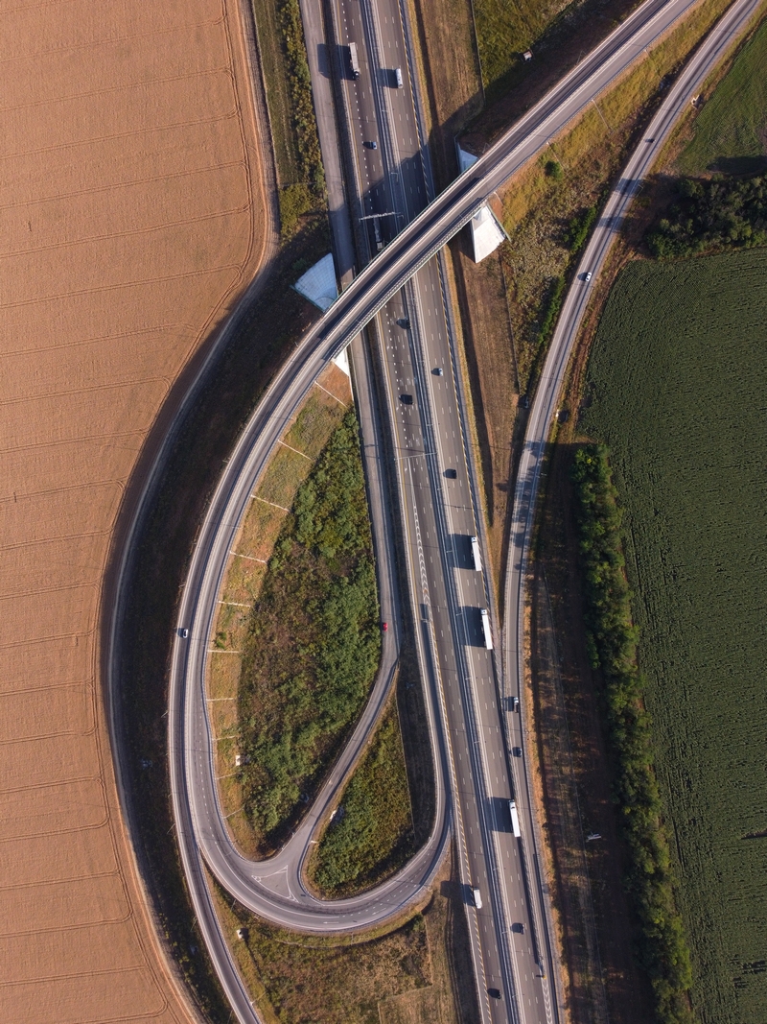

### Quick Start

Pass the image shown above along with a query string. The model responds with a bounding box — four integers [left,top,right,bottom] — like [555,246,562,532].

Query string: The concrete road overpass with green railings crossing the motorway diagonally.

[293,134,523,411]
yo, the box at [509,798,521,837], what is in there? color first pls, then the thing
white vehicle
